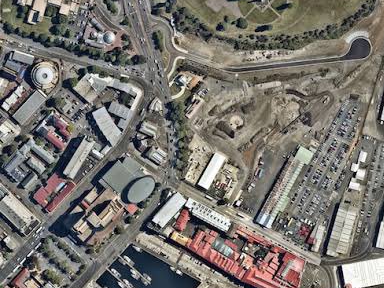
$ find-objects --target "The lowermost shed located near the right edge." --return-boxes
[342,257,384,288]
